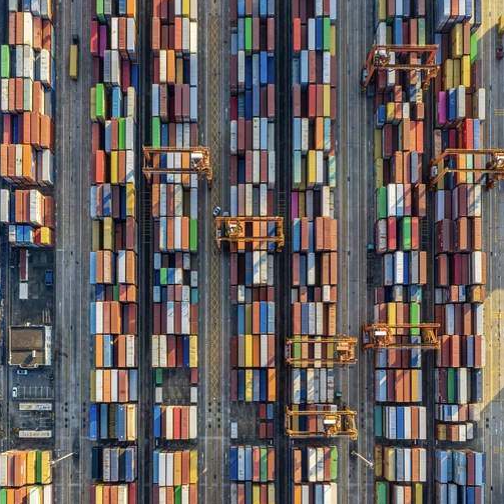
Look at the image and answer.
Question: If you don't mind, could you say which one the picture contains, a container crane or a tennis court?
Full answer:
I can see a container crane in this picture.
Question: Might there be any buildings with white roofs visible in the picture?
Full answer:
No, I find no building with a white roof anywhere in the image.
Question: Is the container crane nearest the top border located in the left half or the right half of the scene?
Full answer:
It is on the right.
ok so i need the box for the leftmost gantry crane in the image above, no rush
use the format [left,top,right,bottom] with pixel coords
[141,145,217,190]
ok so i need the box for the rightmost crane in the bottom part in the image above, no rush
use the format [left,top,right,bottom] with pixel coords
[360,322,443,351]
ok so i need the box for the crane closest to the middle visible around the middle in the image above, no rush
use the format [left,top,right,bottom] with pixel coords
[213,215,286,254]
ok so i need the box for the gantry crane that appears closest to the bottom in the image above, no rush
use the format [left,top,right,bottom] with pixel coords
[280,405,357,437]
